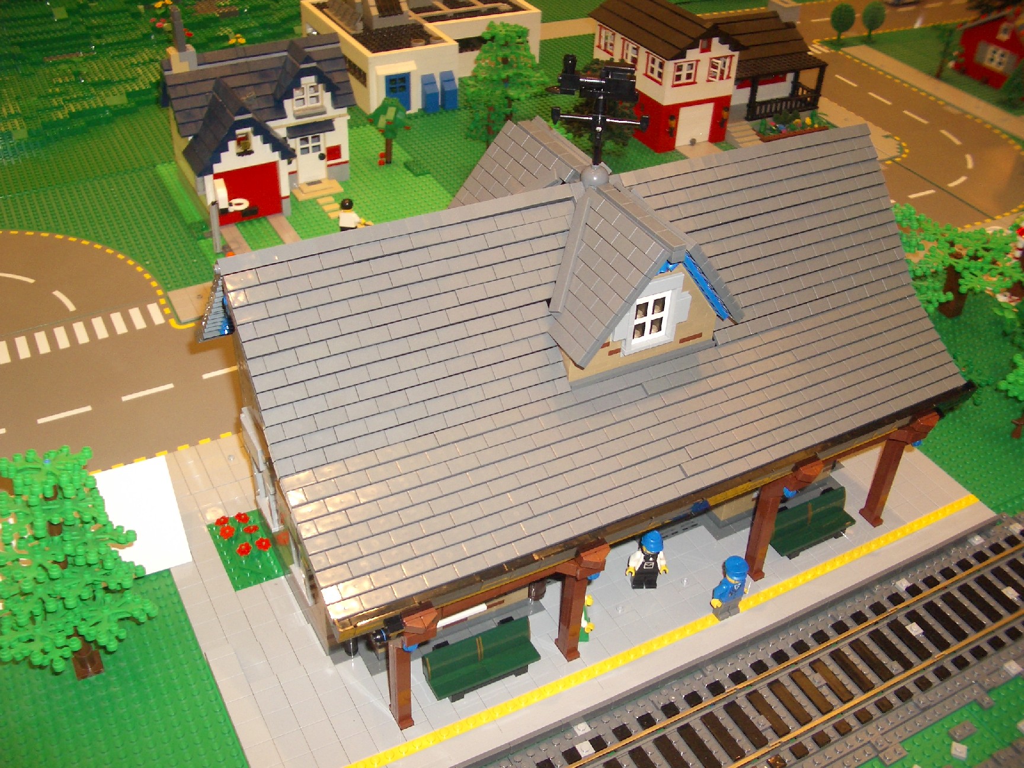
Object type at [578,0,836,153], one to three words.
house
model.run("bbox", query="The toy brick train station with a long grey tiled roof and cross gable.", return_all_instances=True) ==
[197,124,965,730]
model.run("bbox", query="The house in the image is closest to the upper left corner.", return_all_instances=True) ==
[151,3,355,228]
